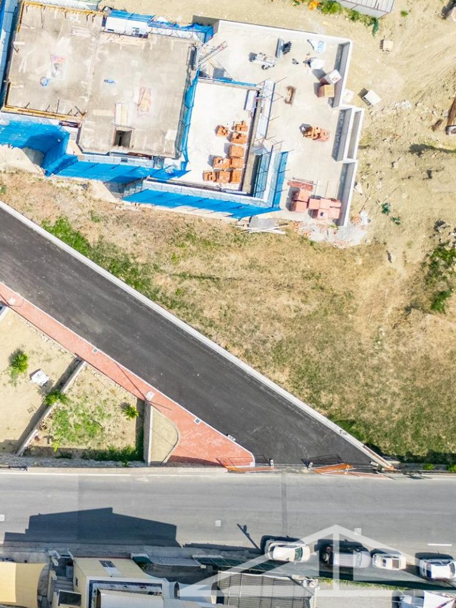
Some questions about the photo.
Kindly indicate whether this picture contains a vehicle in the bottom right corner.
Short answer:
Yes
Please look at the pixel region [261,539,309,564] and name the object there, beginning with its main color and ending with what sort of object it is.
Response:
white car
